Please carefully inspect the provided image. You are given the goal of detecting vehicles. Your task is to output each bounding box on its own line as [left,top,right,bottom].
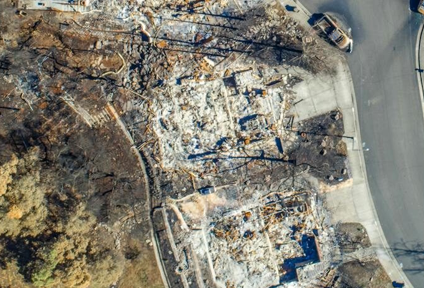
[312,14,349,53]
[416,0,424,15]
